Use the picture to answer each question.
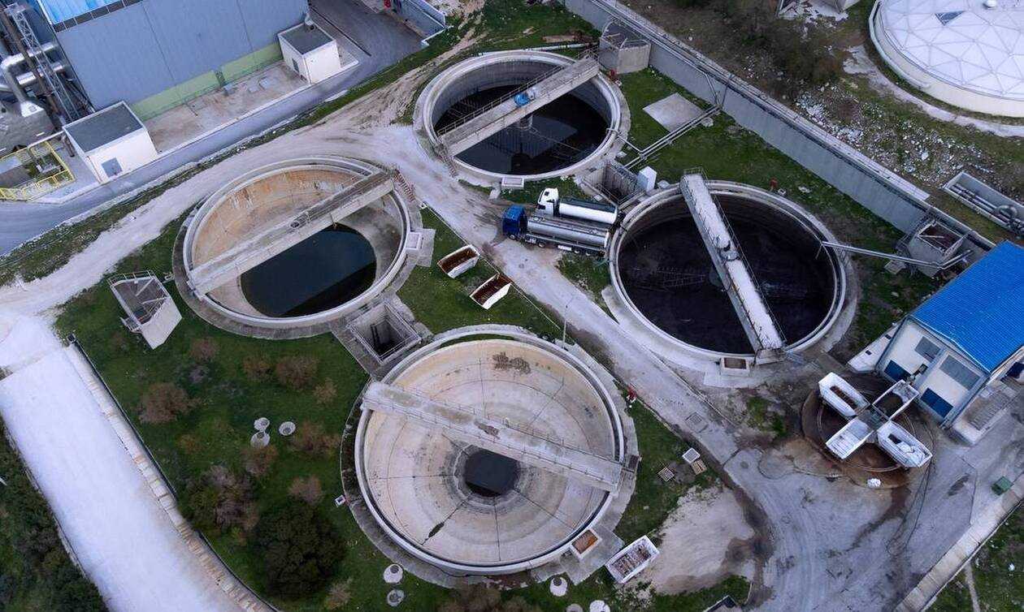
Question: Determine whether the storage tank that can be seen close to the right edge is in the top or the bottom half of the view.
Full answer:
The top half of the photo is where the storage tank that can be seen close to the right edge is.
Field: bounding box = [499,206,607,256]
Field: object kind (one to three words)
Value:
truck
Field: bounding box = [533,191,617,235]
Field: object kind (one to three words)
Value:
truck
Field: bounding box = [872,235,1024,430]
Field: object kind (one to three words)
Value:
building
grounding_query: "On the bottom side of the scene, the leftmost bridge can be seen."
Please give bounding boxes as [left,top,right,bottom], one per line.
[356,379,631,495]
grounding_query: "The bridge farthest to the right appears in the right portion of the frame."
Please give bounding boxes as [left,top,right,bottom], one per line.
[678,163,783,356]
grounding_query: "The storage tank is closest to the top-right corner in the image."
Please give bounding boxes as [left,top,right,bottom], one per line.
[866,0,1024,120]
